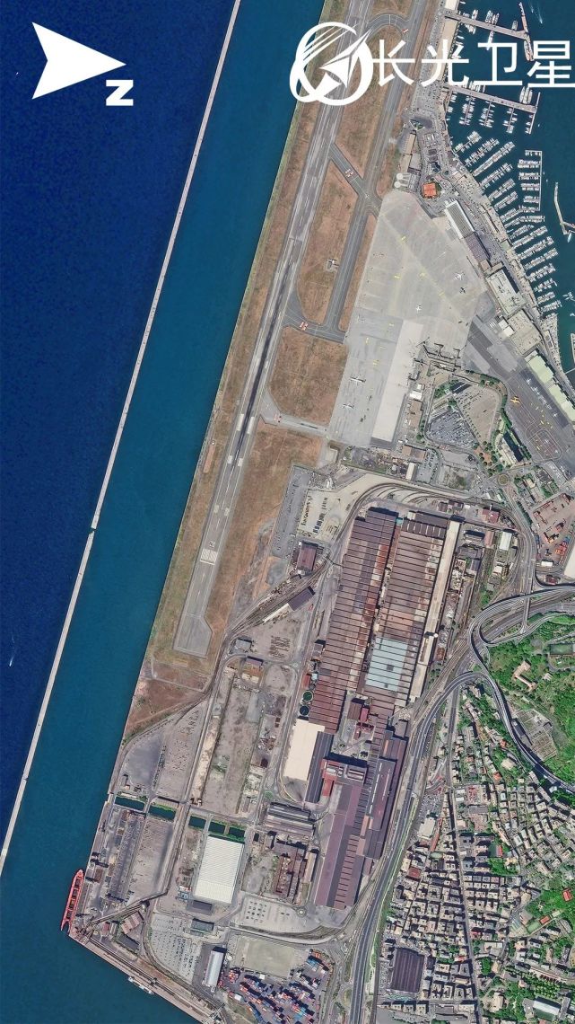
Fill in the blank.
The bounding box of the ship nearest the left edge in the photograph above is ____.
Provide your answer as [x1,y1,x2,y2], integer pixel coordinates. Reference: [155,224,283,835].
[61,869,83,932]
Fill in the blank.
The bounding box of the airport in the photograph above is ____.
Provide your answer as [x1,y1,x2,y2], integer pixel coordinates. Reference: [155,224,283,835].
[143,0,575,671]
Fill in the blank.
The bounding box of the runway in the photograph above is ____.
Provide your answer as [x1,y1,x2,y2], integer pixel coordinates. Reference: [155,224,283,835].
[172,0,372,652]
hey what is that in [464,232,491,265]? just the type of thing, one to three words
hangar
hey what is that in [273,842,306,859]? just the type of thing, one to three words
building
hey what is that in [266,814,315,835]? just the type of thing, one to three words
shed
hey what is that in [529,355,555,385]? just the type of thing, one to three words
hangar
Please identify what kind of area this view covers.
port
